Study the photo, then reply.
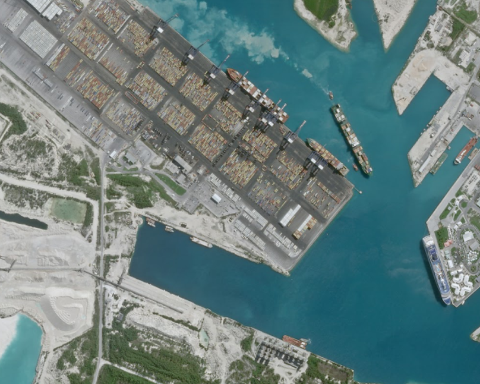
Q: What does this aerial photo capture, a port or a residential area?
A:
port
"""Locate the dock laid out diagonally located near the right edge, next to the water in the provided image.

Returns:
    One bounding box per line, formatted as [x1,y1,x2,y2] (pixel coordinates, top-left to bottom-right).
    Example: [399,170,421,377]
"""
[410,121,463,188]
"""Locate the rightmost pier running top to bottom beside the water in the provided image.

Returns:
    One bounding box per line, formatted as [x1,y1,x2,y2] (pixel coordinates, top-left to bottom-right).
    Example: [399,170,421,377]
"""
[427,102,480,307]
